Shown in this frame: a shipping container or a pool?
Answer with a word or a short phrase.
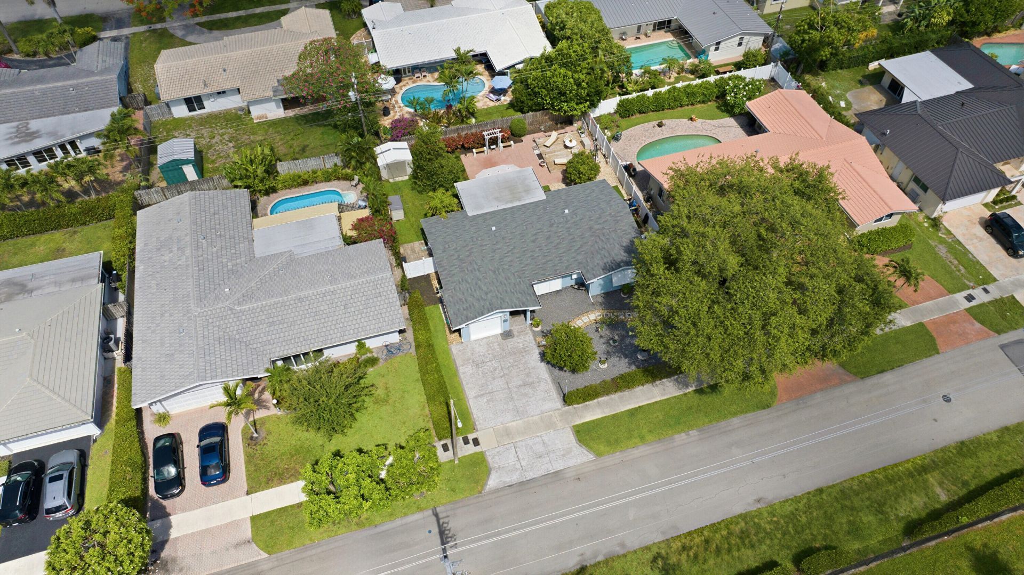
pool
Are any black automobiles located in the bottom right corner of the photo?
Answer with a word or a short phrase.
No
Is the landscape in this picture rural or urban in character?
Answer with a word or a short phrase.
urban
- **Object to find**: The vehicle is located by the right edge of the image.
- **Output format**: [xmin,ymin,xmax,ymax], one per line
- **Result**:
[987,213,1024,260]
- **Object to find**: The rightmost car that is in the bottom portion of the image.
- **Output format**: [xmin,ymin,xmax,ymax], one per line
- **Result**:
[195,423,232,488]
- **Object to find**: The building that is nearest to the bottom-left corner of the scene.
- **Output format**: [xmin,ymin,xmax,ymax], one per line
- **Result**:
[0,249,107,456]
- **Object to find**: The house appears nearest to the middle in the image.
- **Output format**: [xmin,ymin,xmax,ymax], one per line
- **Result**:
[417,163,656,343]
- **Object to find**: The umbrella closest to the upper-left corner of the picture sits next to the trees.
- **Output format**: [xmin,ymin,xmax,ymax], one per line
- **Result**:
[372,75,399,96]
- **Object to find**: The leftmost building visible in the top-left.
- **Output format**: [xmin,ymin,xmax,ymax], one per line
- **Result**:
[0,35,130,168]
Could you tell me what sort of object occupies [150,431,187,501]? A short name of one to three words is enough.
car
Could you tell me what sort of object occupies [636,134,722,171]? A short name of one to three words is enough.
swimming pool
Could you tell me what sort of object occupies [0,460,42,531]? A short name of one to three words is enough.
car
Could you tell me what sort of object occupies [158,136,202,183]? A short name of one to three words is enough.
shed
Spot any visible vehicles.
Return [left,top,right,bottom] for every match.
[987,213,1024,260]
[0,460,42,531]
[195,423,232,488]
[150,431,187,501]
[38,449,83,520]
